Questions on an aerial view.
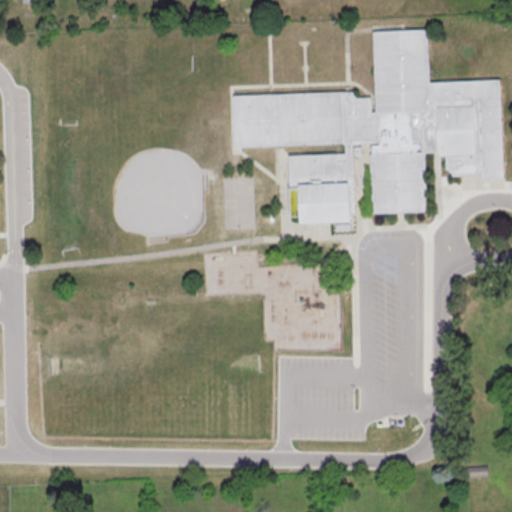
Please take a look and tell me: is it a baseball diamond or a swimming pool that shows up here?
baseball diamond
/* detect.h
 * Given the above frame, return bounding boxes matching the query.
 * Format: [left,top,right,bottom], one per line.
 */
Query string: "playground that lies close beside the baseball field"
[204,250,342,350]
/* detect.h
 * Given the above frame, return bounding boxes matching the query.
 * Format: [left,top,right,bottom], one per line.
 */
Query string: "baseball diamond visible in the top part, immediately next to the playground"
[113,147,216,246]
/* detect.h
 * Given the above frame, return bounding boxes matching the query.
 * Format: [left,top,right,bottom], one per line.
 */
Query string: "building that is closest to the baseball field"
[232,29,505,232]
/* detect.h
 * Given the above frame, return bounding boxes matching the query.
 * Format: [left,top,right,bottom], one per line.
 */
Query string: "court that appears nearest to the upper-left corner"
[224,177,256,230]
